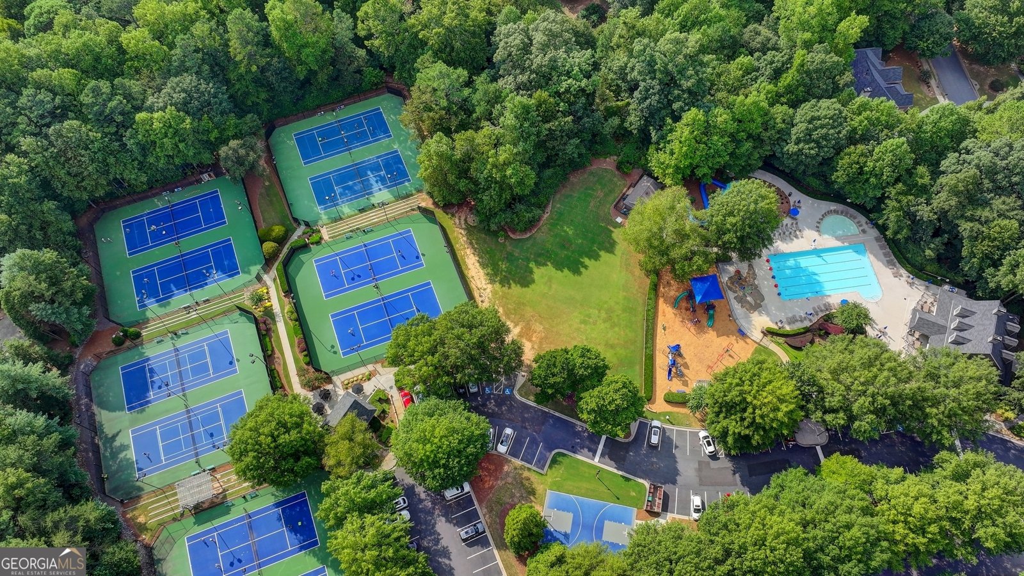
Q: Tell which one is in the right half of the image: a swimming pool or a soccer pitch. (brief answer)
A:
swimming pool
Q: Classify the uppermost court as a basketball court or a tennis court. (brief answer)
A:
tennis court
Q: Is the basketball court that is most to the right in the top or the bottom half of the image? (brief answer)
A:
bottom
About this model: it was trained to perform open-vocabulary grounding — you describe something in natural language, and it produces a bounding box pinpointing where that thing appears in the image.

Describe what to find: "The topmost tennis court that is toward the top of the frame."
[293,107,393,166]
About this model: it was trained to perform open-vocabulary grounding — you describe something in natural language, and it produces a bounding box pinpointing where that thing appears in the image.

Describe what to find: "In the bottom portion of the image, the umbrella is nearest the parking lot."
[350,382,364,396]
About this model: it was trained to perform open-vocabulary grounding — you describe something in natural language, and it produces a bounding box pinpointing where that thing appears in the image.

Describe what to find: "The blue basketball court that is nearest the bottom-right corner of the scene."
[534,491,635,576]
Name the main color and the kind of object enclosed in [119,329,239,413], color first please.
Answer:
blue tennis court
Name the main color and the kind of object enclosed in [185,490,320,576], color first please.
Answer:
blue tennis court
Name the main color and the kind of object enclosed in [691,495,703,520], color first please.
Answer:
white vehicle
